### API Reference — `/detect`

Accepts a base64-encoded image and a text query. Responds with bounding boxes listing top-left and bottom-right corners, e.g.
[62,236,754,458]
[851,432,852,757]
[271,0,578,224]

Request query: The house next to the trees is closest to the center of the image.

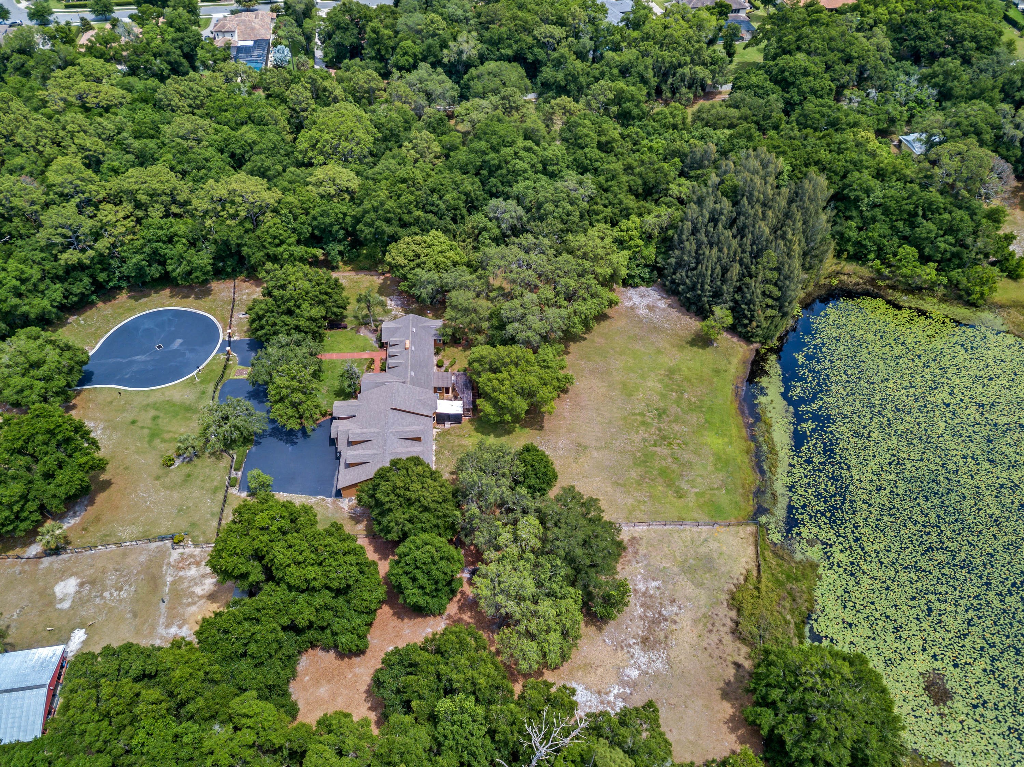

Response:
[331,314,473,497]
